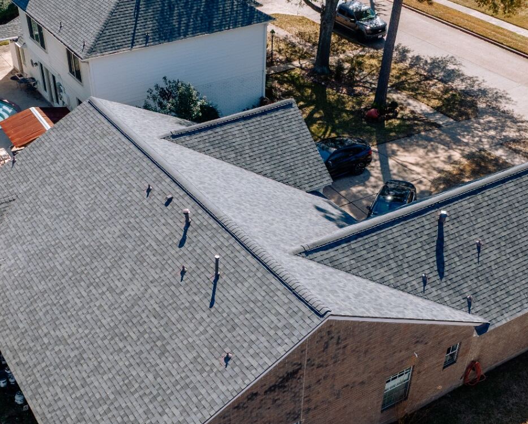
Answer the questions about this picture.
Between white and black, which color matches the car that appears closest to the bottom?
black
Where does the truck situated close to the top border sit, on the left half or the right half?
right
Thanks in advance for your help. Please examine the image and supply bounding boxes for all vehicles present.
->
[314,136,377,184]
[335,0,384,41]
[349,174,417,226]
